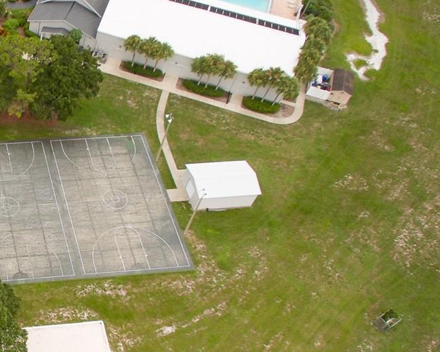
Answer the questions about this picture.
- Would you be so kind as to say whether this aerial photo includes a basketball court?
Yes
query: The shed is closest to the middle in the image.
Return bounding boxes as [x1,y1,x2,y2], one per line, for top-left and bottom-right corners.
[180,155,261,210]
